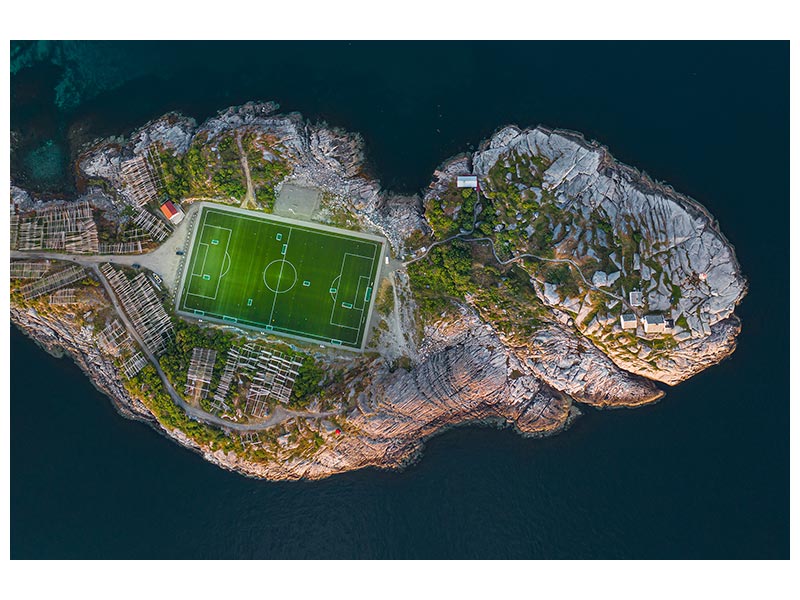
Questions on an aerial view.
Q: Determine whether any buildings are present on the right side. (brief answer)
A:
Yes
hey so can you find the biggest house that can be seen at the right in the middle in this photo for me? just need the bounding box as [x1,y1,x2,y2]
[638,314,673,341]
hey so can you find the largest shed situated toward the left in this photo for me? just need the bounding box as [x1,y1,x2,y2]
[162,202,188,227]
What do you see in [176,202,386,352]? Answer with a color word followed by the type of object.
green soccer field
